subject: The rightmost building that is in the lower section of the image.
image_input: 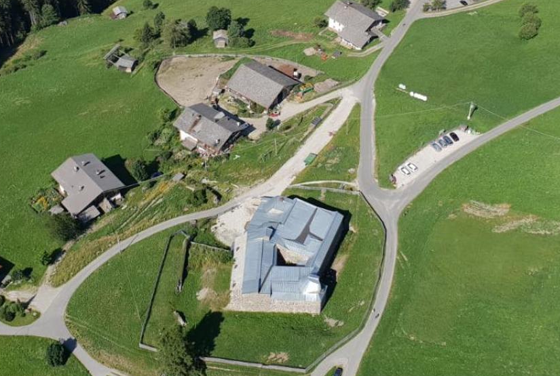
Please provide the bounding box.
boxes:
[242,195,344,311]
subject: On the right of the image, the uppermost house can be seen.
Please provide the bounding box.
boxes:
[322,0,392,44]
